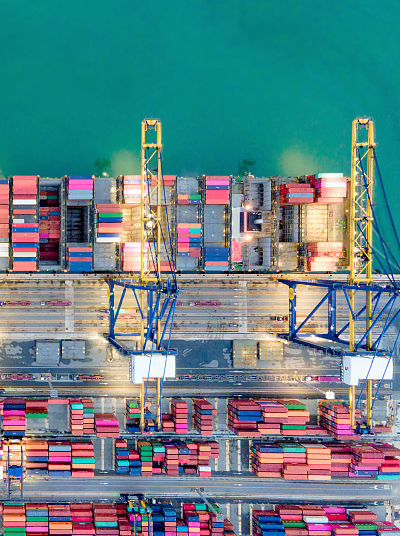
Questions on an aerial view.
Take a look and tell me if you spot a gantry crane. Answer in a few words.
Yes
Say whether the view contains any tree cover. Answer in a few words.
No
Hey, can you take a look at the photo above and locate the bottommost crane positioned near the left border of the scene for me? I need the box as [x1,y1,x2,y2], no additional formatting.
[2,438,25,501]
